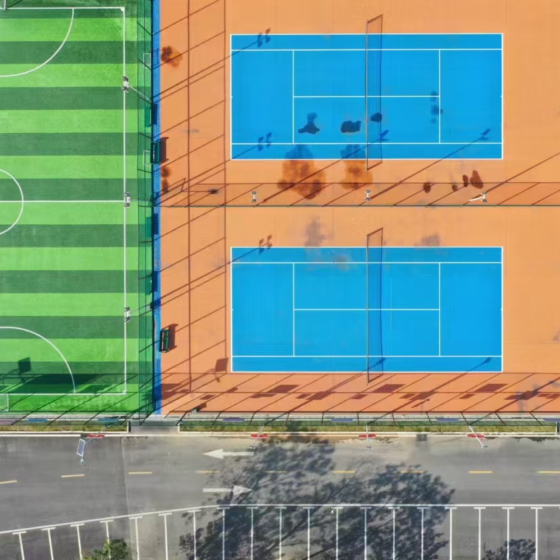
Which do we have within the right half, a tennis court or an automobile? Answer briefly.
tennis court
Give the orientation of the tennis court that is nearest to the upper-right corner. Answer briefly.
horizontally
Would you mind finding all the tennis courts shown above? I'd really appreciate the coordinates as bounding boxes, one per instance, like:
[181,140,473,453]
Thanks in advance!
[230,247,503,373]
[230,33,503,160]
